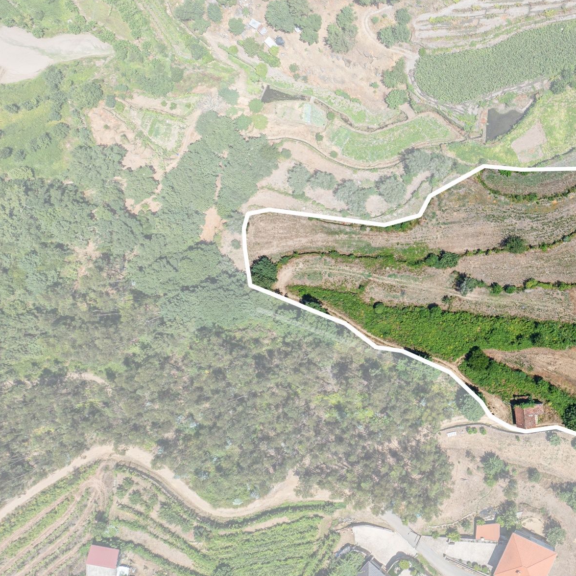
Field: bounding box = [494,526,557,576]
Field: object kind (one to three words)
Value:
house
